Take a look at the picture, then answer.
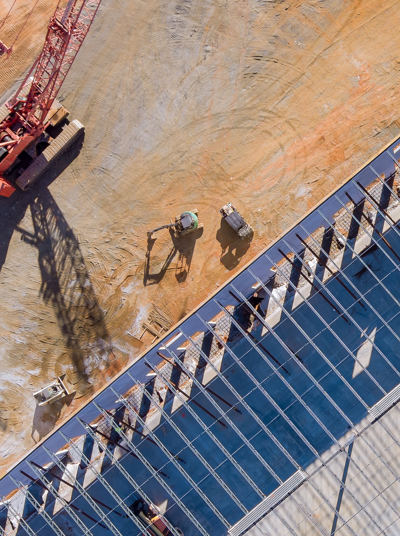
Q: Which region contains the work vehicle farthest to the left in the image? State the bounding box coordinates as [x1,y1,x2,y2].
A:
[28,376,79,407]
